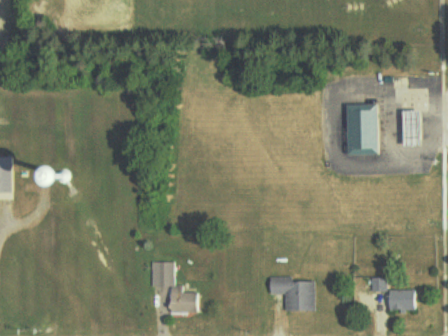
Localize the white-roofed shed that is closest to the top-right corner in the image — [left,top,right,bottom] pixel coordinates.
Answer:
[402,112,422,147]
